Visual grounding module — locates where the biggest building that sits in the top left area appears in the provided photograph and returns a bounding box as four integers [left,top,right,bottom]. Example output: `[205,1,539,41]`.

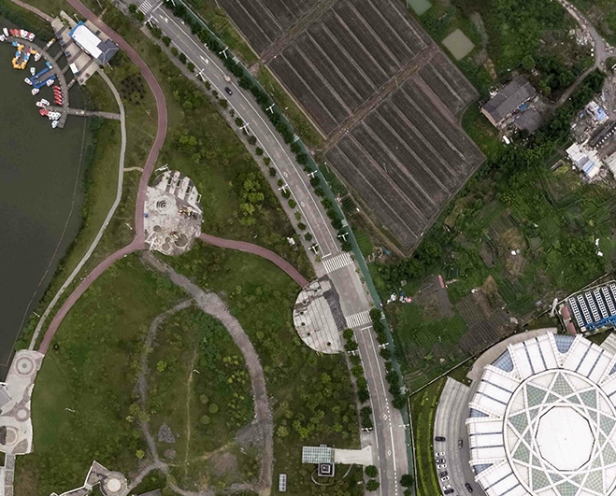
[68,23,115,68]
